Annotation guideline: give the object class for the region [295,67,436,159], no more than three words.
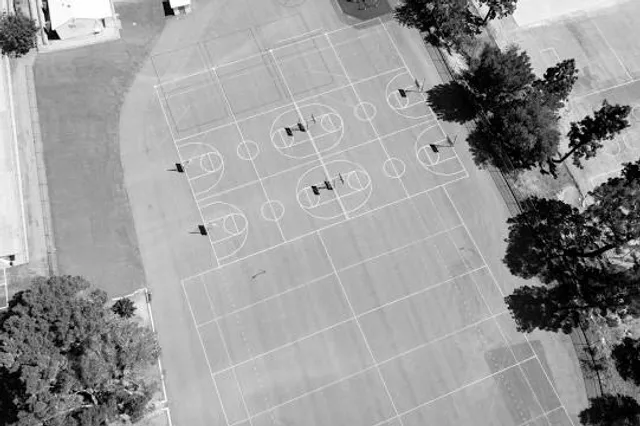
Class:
basketball court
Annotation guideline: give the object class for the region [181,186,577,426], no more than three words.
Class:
sports court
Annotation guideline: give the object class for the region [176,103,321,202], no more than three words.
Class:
basketball court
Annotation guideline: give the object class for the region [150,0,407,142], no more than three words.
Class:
sports court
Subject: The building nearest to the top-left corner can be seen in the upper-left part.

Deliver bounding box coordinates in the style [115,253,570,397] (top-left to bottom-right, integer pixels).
[46,0,124,42]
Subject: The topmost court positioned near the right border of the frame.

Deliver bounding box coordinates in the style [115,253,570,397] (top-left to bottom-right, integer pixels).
[488,0,640,211]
